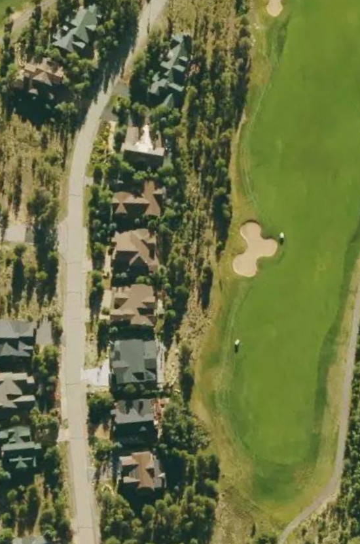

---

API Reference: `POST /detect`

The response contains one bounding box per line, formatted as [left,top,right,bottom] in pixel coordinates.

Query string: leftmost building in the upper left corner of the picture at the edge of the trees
[19,59,66,93]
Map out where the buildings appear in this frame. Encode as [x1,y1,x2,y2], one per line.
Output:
[109,284,165,328]
[114,397,163,443]
[107,227,162,274]
[109,339,165,384]
[0,369,36,411]
[51,1,100,54]
[0,320,35,360]
[119,450,165,489]
[120,125,167,170]
[3,535,48,544]
[111,179,168,217]
[0,425,43,469]
[19,59,66,93]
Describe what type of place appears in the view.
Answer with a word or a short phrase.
golf course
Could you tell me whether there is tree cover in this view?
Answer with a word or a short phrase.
Yes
